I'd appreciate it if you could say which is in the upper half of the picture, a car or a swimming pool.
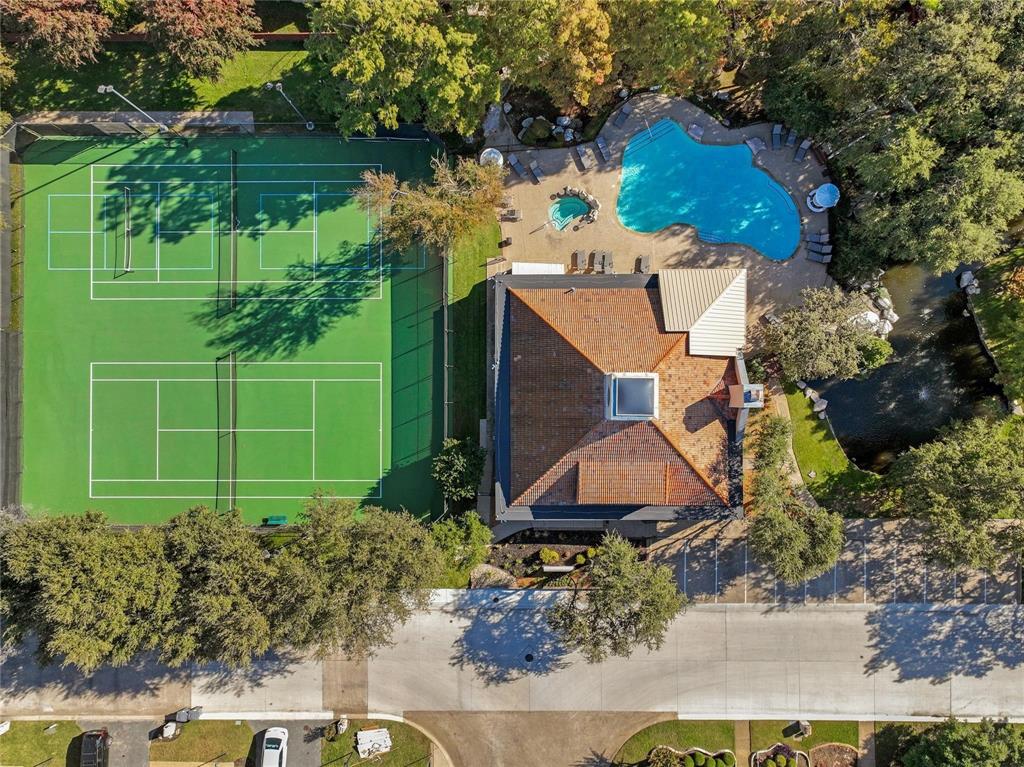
swimming pool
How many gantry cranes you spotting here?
0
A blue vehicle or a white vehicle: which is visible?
white vehicle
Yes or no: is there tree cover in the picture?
Yes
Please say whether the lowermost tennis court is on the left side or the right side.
left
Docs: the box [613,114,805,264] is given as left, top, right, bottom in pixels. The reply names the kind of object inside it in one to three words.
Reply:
swimming pool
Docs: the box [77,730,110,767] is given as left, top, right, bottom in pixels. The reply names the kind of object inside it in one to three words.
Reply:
car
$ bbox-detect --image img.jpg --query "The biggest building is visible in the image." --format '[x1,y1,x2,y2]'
[494,262,767,521]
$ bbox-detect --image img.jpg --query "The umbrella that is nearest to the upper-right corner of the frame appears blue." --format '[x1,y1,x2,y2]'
[810,183,840,207]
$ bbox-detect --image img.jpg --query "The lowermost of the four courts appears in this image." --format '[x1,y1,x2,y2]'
[22,331,443,524]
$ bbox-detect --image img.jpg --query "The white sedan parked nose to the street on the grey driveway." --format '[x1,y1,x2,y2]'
[258,726,287,767]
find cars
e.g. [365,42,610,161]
[258,726,287,767]
[77,730,110,767]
